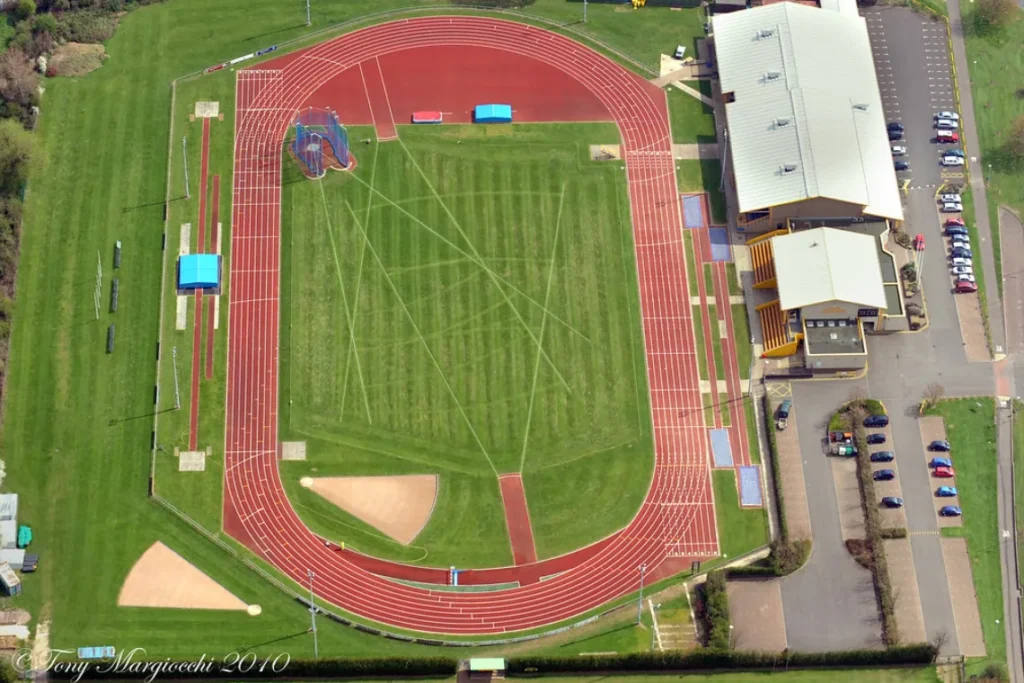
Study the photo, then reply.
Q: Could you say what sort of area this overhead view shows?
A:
sports ground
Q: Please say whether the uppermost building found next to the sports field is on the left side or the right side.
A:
right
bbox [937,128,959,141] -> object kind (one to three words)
vehicle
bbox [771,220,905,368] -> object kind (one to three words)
building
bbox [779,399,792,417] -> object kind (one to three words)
vehicle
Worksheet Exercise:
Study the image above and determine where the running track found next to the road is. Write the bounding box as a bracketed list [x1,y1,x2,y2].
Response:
[220,14,720,634]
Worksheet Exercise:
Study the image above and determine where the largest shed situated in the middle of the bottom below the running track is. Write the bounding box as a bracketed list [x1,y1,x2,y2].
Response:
[470,658,504,680]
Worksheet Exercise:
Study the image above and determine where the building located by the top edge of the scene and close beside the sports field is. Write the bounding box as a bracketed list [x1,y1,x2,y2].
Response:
[712,0,903,244]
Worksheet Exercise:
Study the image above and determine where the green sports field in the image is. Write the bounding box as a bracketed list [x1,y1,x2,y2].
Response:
[279,122,655,569]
